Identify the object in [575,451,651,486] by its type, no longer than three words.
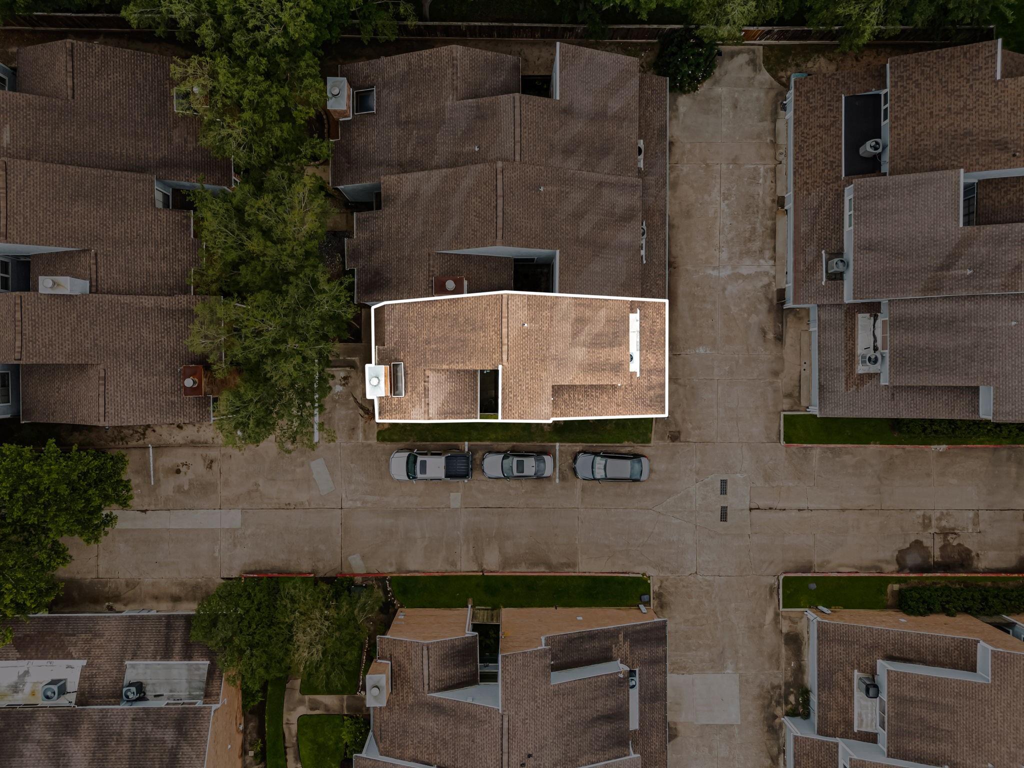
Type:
car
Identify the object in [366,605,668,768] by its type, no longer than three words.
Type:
house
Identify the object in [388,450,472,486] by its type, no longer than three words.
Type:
truck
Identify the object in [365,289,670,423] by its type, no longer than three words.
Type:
house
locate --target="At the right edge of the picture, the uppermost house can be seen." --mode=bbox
[785,39,1024,193]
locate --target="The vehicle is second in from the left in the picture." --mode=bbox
[482,451,552,484]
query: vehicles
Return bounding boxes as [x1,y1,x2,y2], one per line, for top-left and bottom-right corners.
[482,451,552,484]
[388,450,472,486]
[575,451,651,486]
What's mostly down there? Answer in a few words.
buildings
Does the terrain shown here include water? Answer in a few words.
No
